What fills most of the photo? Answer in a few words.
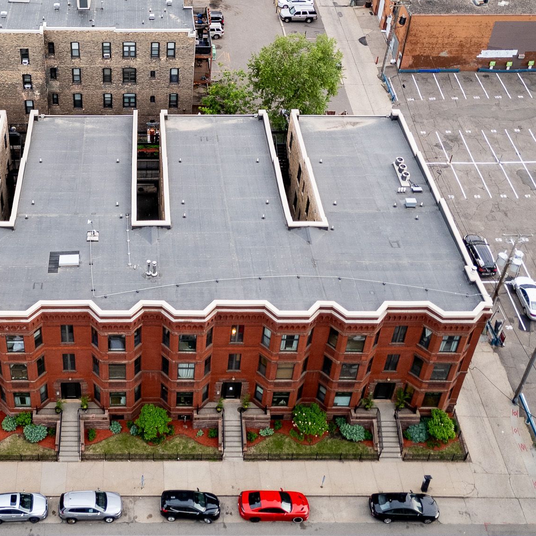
buildings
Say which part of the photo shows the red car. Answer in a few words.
bottom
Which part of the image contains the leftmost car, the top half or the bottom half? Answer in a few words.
bottom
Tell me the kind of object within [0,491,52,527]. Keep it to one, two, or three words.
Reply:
car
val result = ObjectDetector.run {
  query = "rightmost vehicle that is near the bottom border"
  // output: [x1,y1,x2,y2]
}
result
[362,492,436,527]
